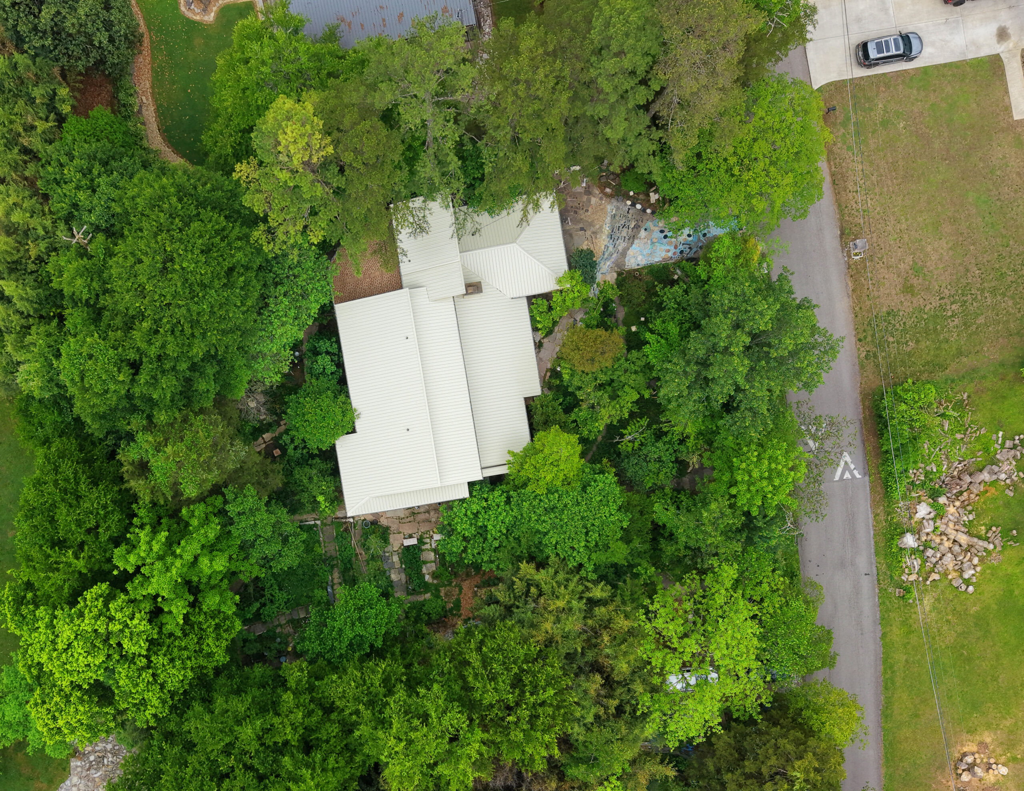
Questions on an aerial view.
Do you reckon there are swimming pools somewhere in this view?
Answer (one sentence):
No, there is no swimming pool in the image.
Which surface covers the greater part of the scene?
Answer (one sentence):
For the most part, this view shows trees.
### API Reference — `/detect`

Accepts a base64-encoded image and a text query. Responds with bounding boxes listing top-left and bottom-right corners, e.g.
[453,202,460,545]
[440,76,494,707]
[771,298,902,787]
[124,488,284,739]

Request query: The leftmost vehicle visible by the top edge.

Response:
[853,26,925,70]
